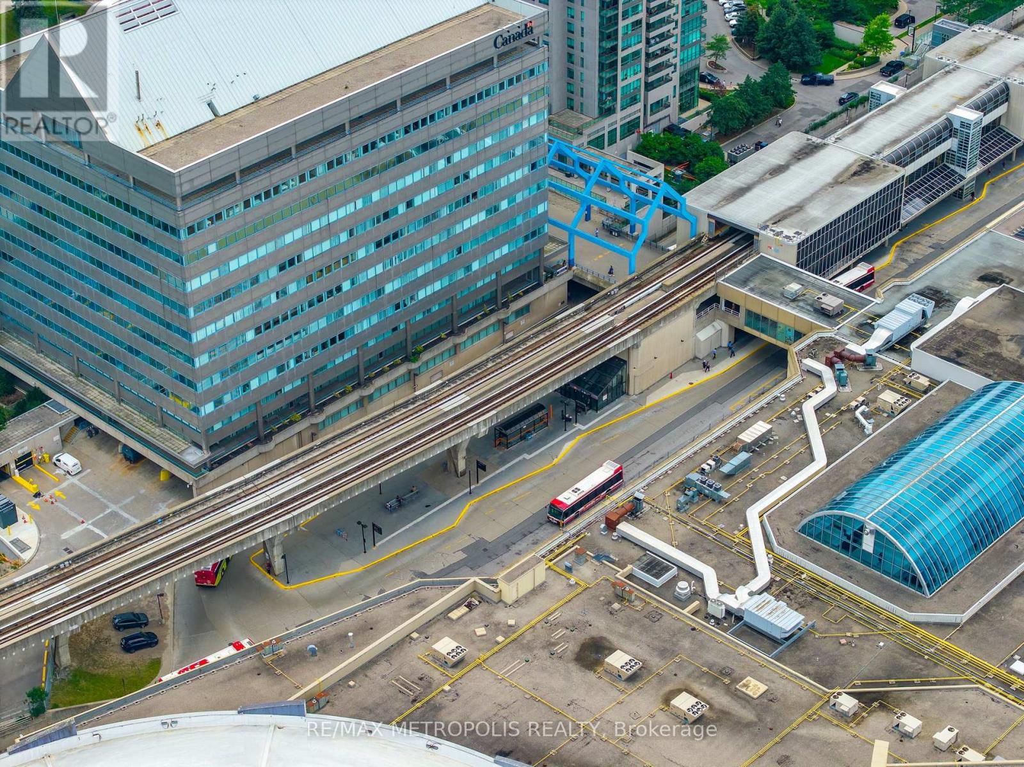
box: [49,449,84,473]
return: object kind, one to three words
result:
vehicle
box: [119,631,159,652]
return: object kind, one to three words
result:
car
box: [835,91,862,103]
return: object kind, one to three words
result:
vehicle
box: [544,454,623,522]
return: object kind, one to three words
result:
bus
